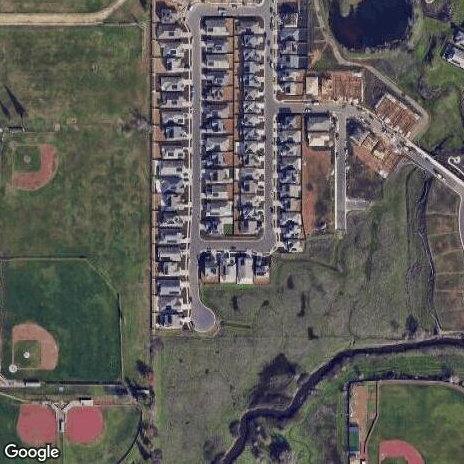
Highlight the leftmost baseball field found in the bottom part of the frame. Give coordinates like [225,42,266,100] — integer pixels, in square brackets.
[0,392,61,464]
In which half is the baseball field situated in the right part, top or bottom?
bottom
